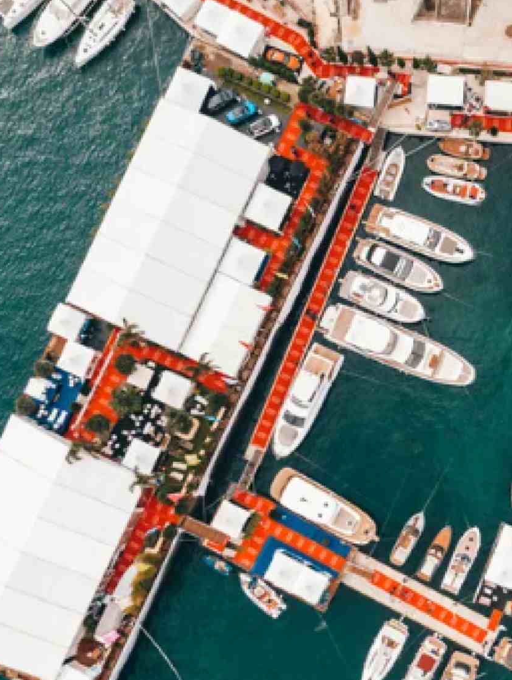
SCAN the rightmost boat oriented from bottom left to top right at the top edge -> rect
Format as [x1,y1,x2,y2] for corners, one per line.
[73,0,149,65]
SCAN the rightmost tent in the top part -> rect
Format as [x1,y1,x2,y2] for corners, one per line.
[344,76,378,113]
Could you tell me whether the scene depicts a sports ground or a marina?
marina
